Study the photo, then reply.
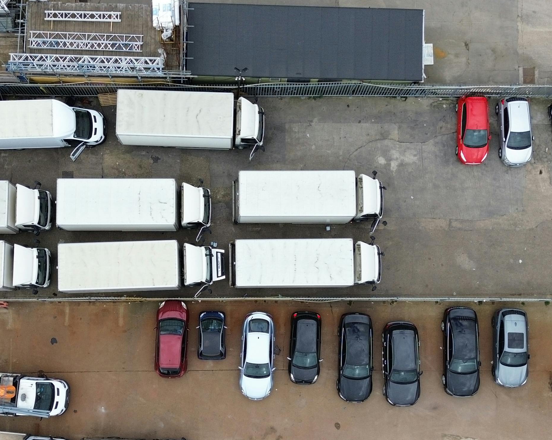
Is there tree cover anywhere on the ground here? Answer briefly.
No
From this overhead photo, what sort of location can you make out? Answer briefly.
parking lot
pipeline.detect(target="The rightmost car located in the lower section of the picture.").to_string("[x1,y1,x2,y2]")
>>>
[490,310,533,386]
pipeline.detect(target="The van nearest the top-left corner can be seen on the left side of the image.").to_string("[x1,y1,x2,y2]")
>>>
[0,99,107,162]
